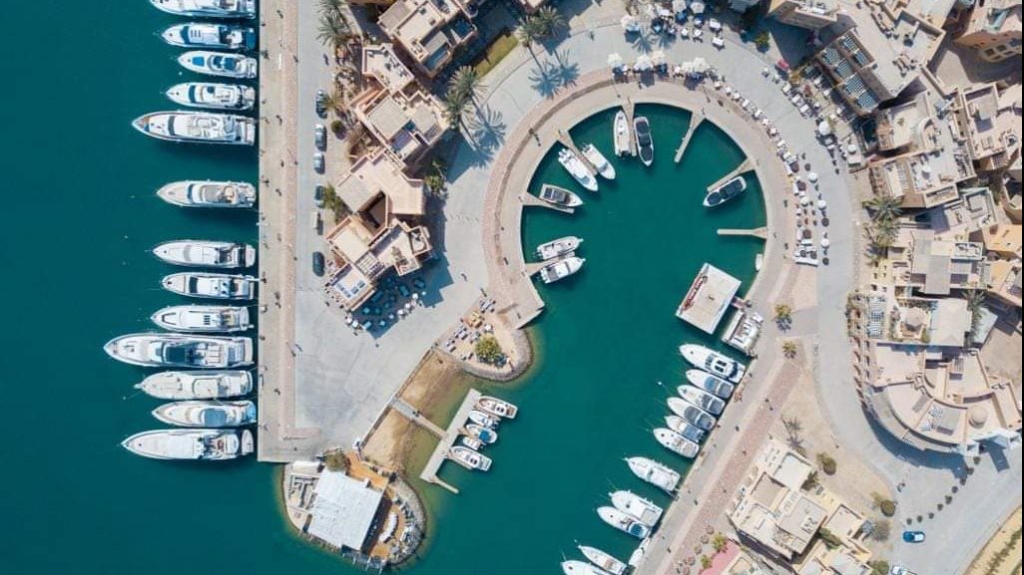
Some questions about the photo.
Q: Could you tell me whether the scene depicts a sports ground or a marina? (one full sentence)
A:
It's a marina.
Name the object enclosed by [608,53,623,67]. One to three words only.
umbrella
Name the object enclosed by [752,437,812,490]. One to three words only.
building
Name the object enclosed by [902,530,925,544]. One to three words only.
car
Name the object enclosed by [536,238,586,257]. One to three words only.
boat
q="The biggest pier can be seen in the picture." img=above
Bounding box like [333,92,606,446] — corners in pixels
[420,389,481,483]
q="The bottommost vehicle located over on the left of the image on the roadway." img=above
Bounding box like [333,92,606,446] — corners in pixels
[311,251,324,276]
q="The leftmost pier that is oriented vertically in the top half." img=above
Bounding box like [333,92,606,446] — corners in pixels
[622,103,637,157]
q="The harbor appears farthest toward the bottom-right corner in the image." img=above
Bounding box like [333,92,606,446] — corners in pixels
[518,99,771,575]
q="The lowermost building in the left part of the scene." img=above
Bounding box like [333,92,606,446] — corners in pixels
[287,451,401,572]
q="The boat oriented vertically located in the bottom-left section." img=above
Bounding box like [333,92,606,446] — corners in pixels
[242,430,255,456]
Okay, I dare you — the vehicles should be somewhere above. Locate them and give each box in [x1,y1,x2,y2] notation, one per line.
[313,183,325,207]
[311,251,324,276]
[311,213,320,227]
[902,530,925,544]
[314,92,326,117]
[313,123,325,148]
[312,151,324,174]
